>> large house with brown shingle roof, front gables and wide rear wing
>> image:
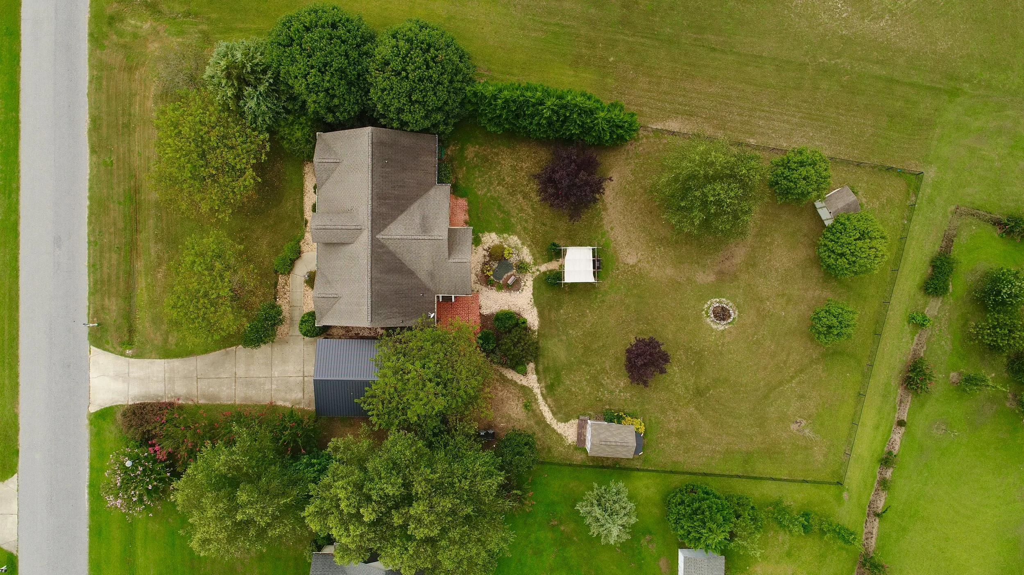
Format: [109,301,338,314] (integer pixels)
[309,126,472,327]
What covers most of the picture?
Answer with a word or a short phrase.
grass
